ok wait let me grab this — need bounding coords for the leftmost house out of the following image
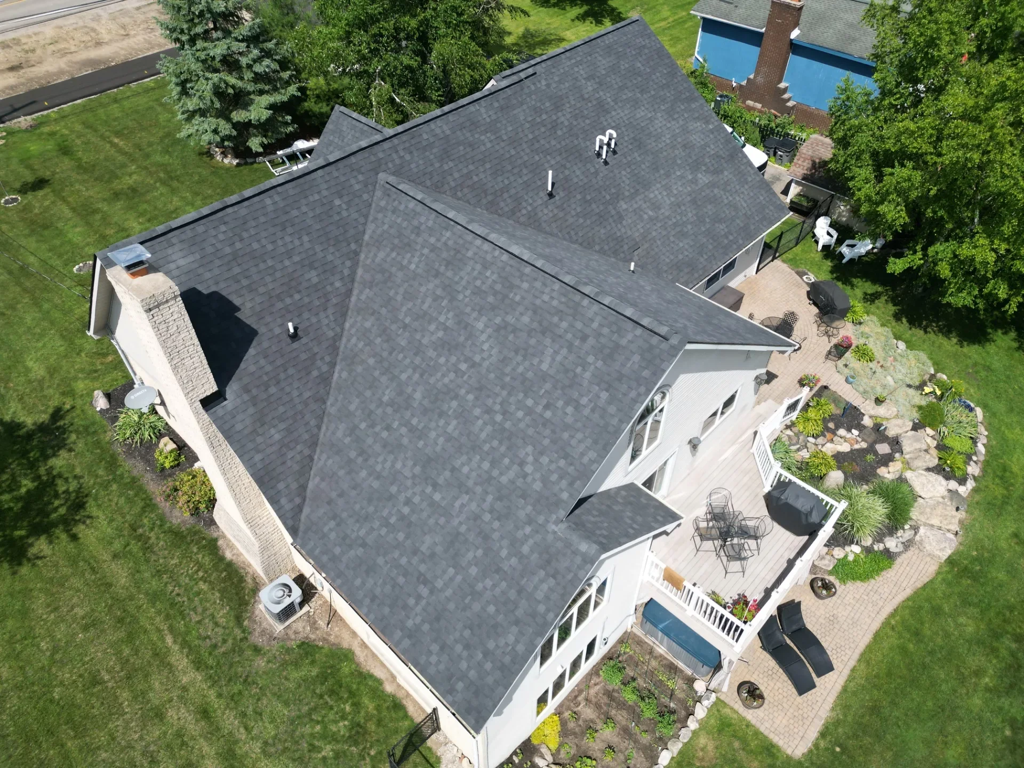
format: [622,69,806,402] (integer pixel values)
[86,18,799,768]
